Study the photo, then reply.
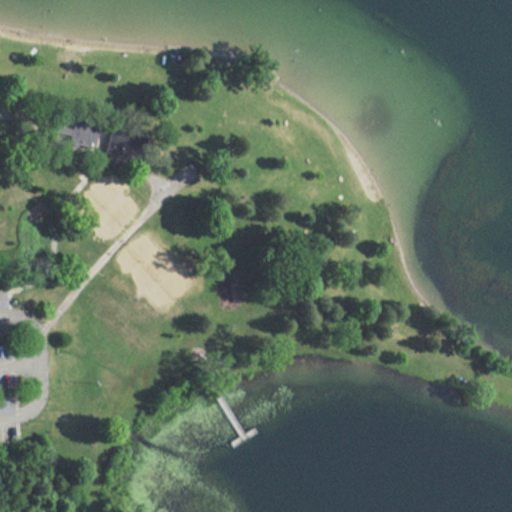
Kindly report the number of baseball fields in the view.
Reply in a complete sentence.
Not a single baseball field can be seen.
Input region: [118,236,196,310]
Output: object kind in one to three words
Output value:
sports court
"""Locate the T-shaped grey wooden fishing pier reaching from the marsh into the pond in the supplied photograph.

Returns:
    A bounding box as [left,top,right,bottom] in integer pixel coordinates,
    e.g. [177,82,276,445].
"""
[218,398,256,445]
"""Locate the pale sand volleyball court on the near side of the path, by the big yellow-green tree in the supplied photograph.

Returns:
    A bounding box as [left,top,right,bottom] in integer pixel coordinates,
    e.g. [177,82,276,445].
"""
[84,182,138,240]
